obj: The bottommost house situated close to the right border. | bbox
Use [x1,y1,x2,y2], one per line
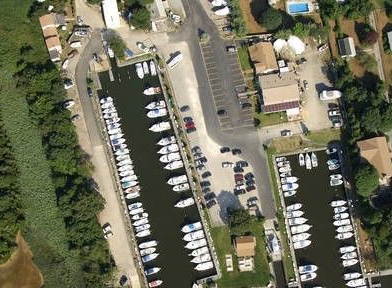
[358,137,392,178]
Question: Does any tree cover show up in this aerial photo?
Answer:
Yes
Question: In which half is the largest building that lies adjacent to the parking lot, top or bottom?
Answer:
top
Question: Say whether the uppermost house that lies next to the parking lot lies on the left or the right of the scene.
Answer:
right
